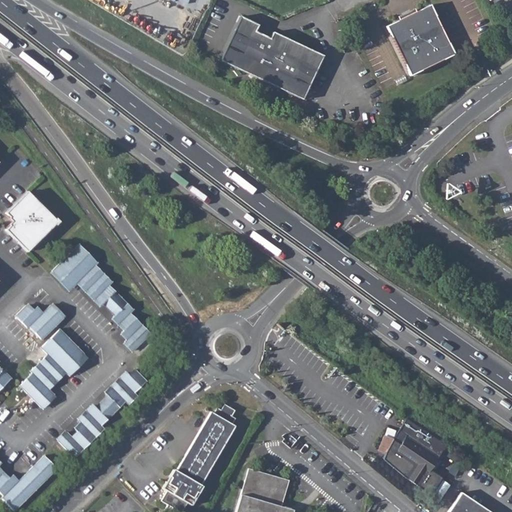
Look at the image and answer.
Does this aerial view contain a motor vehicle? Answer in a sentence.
Yes, this view includes a motor vehicle.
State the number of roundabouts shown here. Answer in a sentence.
In total, there are 2 roundabouts in the scene.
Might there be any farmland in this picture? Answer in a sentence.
No, the scene doesn't show any farmland.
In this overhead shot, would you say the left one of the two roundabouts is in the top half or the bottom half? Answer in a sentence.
The left one of the two roundabouts is in the bottom half of the image.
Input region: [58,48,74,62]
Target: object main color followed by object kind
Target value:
white vehicle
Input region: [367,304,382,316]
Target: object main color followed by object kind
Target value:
white vehicle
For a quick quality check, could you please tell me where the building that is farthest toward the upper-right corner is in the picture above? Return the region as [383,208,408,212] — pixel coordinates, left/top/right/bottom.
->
[380,4,456,78]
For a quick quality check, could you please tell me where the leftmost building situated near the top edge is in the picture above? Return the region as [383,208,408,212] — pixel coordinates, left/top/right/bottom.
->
[218,16,325,101]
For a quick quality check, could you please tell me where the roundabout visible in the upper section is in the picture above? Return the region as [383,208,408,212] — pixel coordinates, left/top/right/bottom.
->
[354,162,416,224]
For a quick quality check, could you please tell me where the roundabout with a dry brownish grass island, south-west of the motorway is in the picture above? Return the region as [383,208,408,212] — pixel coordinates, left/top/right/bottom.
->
[196,314,258,376]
